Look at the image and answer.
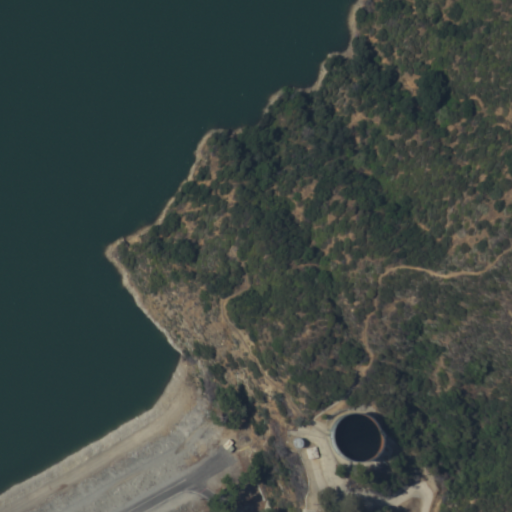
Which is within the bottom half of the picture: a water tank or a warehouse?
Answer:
water tank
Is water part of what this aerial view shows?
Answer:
Yes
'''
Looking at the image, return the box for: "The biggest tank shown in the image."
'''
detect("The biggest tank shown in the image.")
[328,408,384,464]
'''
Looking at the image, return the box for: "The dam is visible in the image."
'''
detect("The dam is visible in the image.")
[0,352,229,512]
